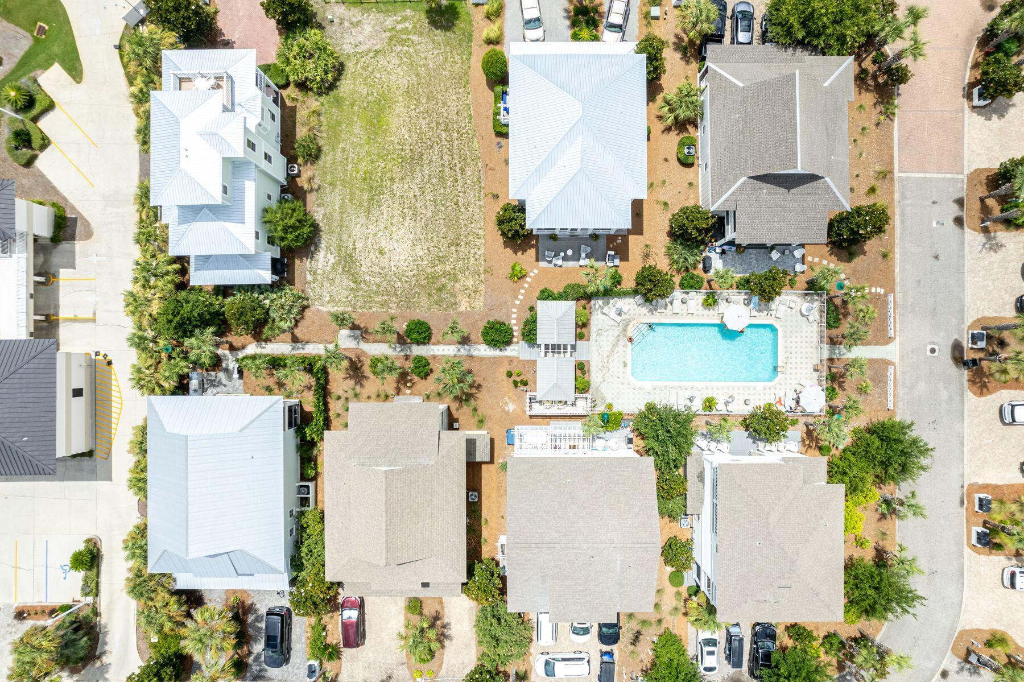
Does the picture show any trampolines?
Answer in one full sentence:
No, there's no trampoline here.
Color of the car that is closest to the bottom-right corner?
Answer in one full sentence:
In this view, the car that is closest to the bottom-right corner is white.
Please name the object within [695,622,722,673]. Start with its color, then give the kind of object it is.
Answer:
white car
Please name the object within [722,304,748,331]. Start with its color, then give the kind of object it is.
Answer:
white umbrella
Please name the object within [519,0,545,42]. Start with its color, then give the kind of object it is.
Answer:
white car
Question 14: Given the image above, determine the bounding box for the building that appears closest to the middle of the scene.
[536,299,577,402]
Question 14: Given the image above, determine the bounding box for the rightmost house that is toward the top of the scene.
[695,43,854,247]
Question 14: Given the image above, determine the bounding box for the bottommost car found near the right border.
[1003,564,1024,587]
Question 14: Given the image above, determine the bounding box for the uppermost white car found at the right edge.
[999,401,1024,422]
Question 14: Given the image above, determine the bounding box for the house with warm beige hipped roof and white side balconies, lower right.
[680,448,845,622]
